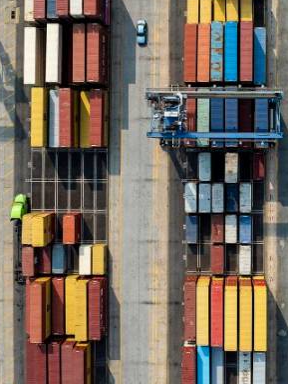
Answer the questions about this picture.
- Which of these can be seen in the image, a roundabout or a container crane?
container crane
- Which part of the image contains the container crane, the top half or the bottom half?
top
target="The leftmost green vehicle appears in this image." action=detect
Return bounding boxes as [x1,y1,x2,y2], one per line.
[9,193,27,281]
